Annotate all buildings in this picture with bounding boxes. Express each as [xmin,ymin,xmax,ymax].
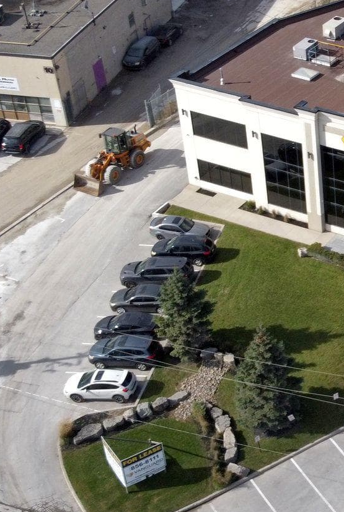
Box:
[0,0,191,127]
[165,0,344,232]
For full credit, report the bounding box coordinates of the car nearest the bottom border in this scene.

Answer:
[59,366,139,403]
